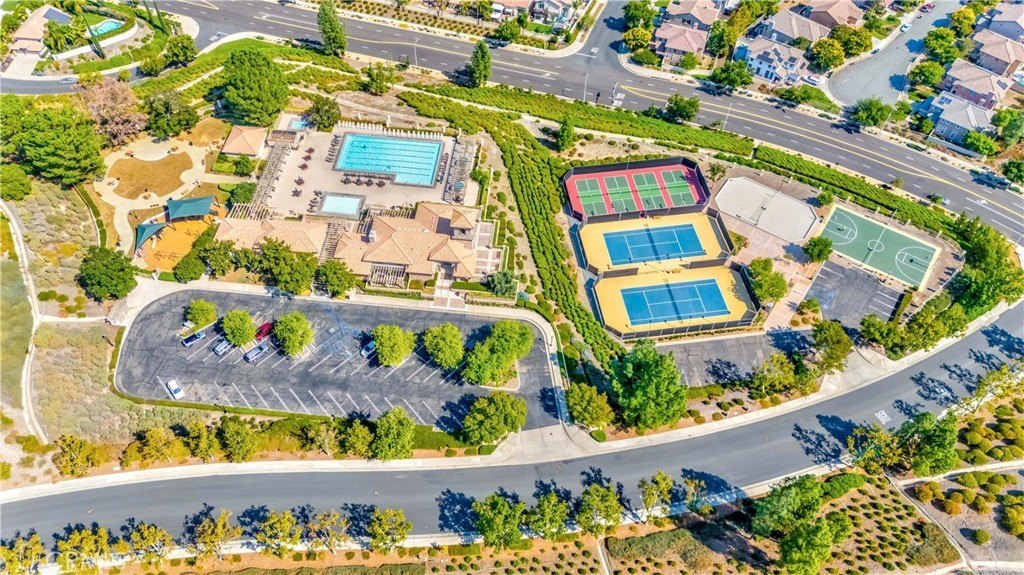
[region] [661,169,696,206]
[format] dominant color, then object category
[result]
green sports court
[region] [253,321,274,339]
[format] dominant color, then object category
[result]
red car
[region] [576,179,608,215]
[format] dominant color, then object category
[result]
green sports court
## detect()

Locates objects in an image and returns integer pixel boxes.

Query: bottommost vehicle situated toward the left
[166,379,183,398]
